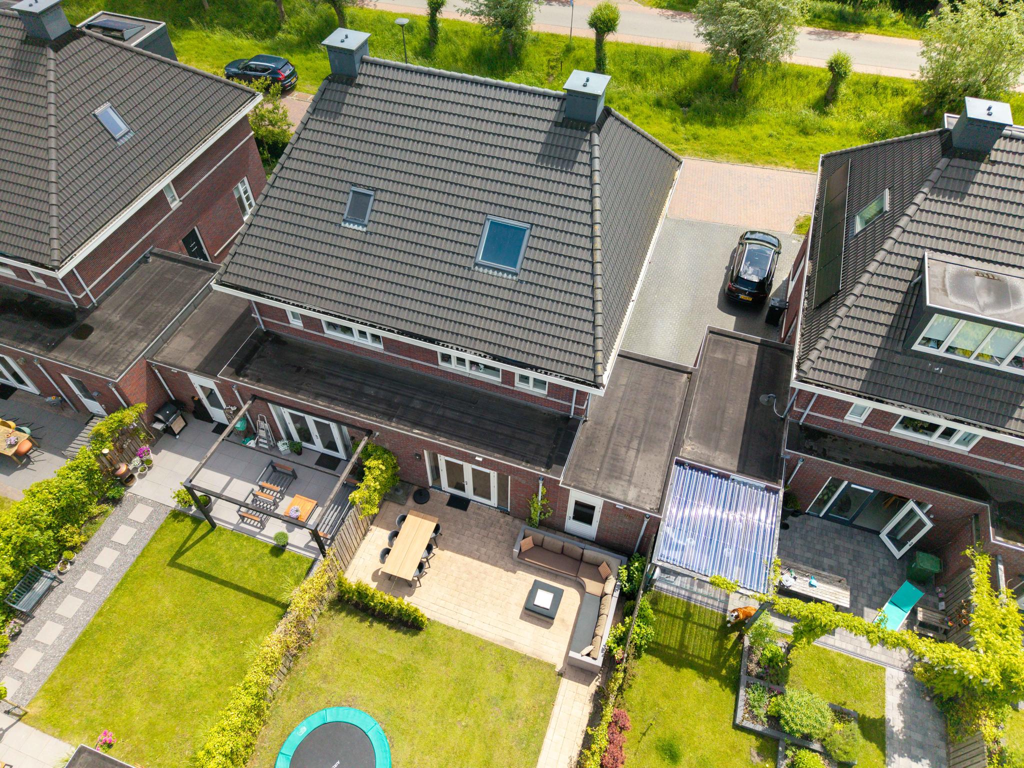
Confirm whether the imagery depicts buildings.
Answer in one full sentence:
Yes, the photo shows a building.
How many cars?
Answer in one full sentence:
I count 2 cars.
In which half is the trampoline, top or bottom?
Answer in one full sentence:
The trampoline is in the bottom half of the image.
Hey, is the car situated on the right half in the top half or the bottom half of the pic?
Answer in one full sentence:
The car situated on the right half sits in the top half of the picture.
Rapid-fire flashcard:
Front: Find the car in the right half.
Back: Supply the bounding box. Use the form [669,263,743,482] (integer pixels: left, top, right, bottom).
[726,231,783,305]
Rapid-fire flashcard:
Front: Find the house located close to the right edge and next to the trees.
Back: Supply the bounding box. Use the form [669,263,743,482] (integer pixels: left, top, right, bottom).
[770,97,1024,608]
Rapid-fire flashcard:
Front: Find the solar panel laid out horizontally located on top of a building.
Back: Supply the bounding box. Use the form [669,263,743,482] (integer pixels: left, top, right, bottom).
[86,11,140,39]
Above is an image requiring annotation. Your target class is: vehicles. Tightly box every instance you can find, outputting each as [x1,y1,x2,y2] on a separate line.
[226,52,301,96]
[726,231,783,305]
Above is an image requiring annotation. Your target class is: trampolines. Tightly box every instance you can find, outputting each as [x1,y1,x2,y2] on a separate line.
[275,707,392,768]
